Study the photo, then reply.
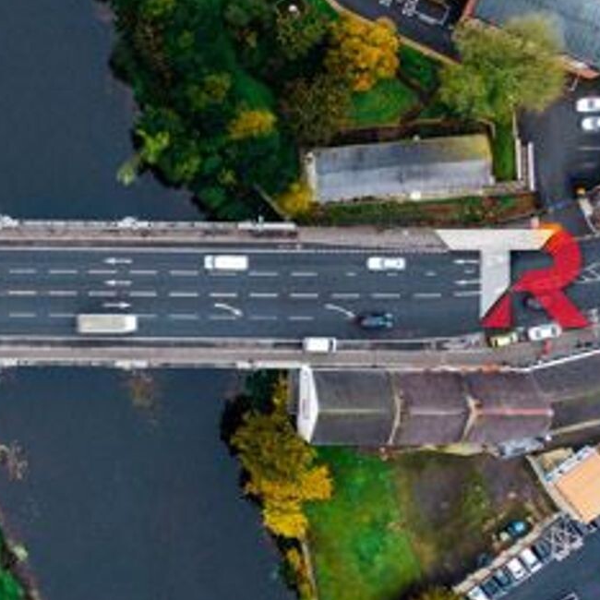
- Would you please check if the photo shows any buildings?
Yes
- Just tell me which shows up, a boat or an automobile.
automobile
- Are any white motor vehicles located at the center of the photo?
Yes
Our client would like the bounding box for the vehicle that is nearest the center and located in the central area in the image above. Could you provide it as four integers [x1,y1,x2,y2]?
[300,336,332,354]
